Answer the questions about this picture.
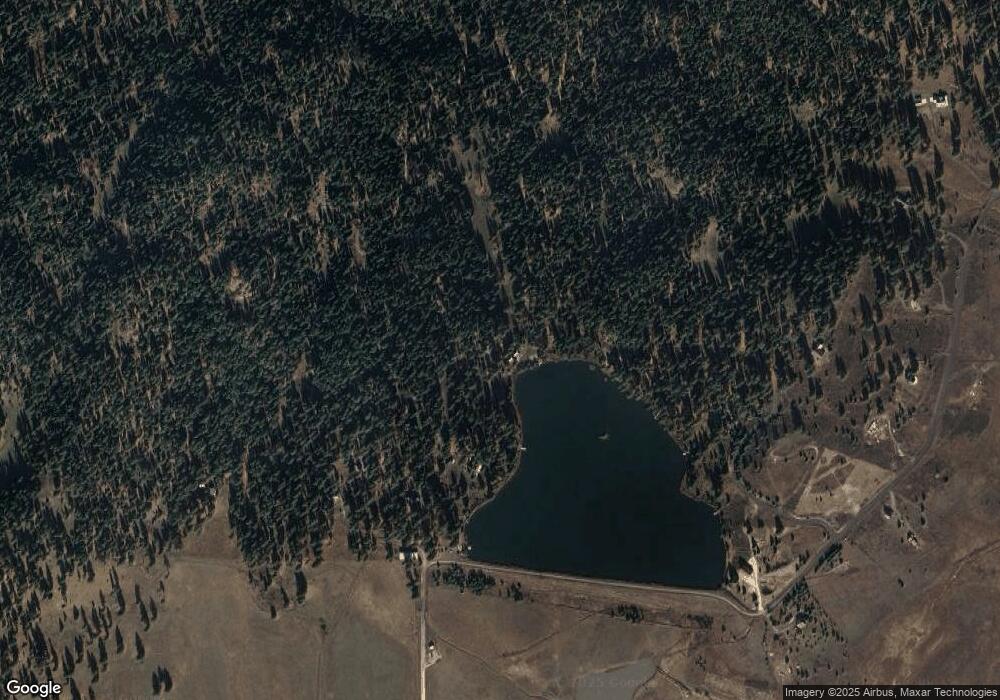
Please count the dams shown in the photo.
1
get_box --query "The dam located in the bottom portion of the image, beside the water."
[425,556,763,615]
